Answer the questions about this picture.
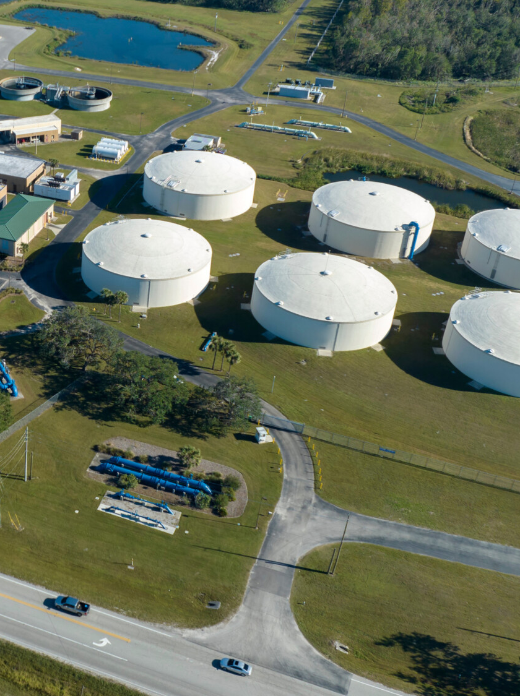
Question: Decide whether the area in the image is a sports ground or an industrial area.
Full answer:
This looks like an industrial area.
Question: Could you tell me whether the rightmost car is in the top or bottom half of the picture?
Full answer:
It is in the bottom half that the rightmost car appears.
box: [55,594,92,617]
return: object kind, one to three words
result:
truck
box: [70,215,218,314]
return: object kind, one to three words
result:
storage tank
